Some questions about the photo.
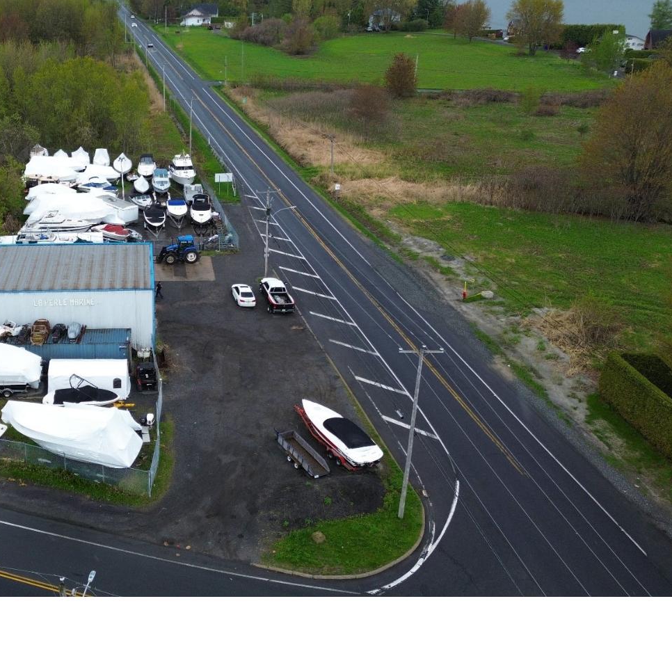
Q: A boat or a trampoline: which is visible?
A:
boat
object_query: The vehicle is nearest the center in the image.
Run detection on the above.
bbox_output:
[261,282,297,315]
